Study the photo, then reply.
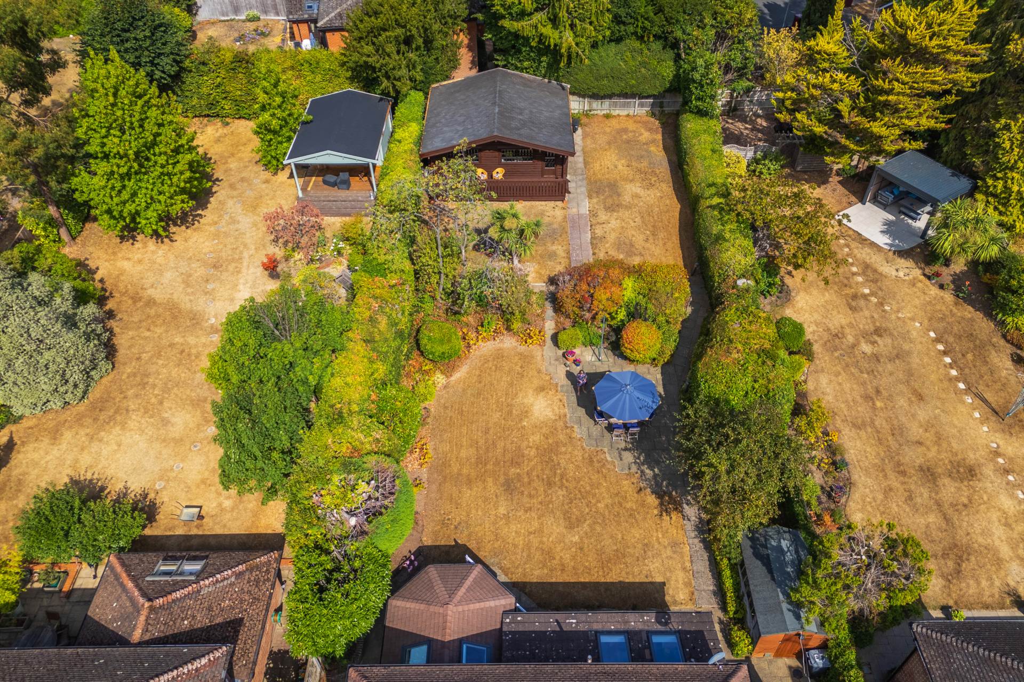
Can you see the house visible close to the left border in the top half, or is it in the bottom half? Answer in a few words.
bottom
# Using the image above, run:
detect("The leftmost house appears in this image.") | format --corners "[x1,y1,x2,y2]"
[0,548,285,682]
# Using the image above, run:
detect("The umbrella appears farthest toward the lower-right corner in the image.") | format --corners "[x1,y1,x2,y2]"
[592,370,662,429]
